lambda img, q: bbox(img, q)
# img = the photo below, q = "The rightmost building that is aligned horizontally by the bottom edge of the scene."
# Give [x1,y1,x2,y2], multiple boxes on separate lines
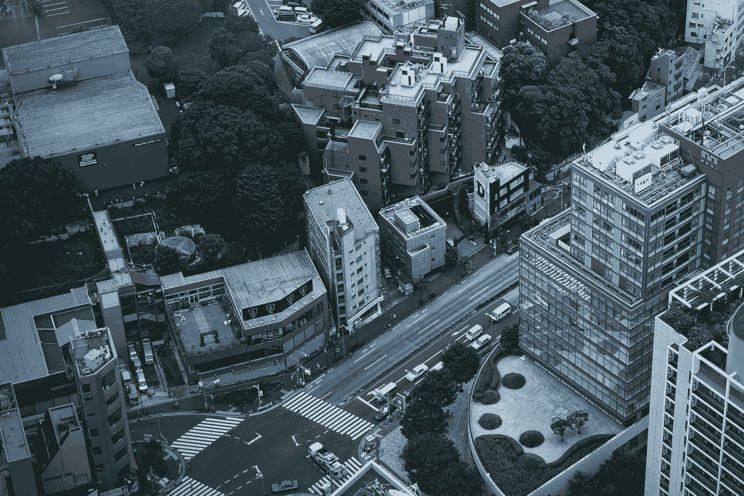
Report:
[337,462,421,496]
